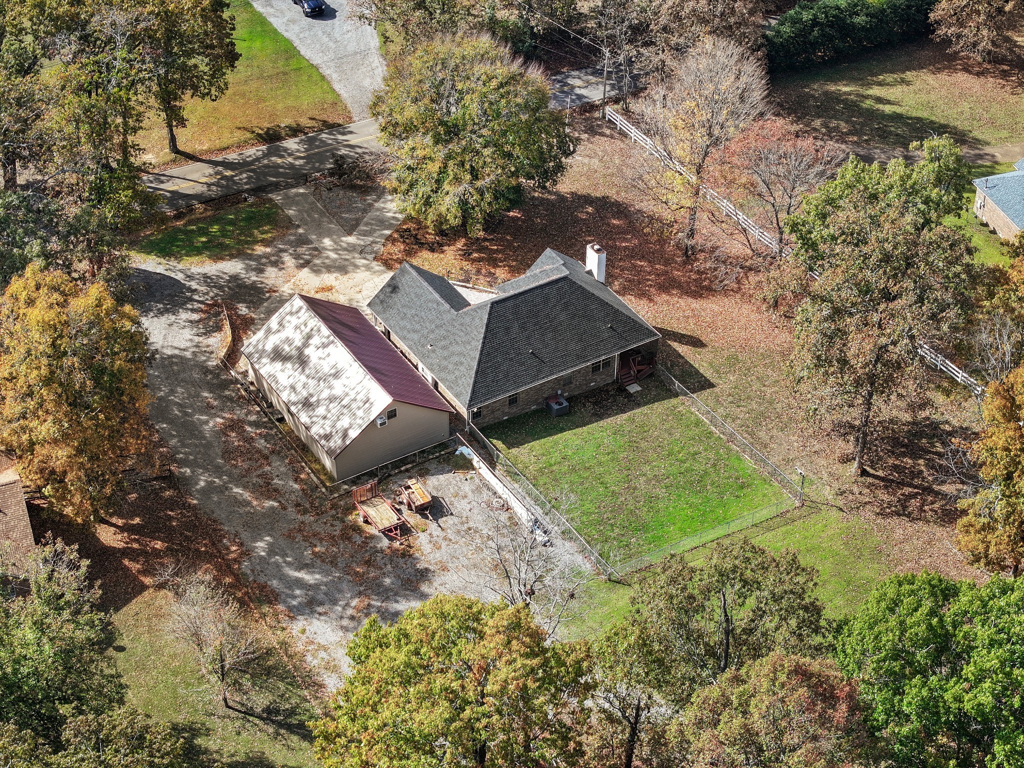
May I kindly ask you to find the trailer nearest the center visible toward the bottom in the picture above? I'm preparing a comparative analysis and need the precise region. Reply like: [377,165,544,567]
[398,473,434,522]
